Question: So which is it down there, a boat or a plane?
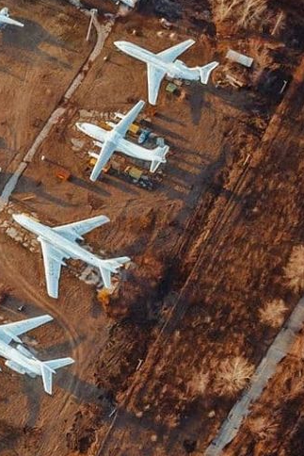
plane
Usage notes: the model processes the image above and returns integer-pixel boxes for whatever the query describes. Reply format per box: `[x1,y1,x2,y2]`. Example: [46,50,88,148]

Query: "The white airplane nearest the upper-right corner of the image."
[114,42,216,104]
